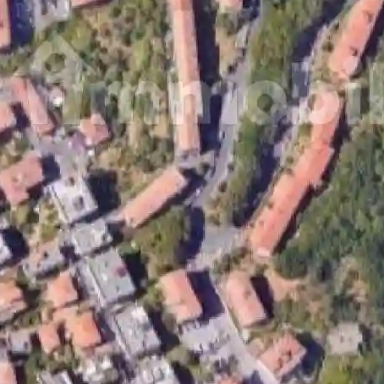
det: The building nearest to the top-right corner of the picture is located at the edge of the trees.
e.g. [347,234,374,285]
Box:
[329,0,384,81]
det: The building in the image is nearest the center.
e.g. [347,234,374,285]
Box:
[122,167,188,227]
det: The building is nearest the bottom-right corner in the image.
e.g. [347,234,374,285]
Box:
[328,321,362,356]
